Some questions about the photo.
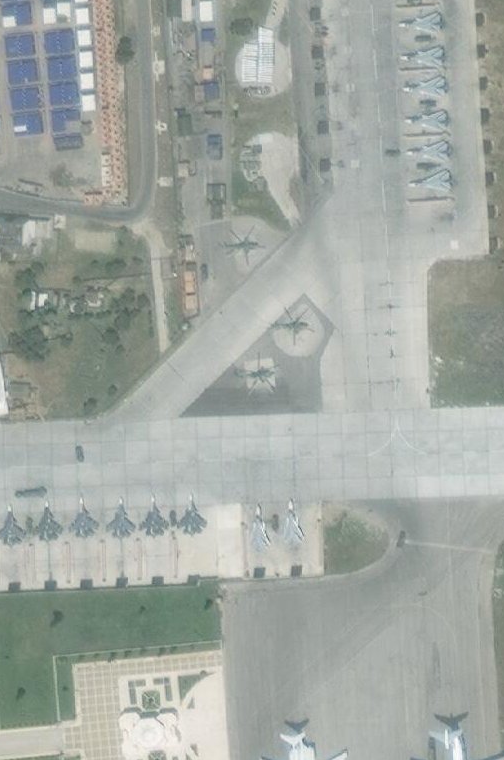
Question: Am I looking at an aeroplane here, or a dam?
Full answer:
There is an aeroplane in the scene.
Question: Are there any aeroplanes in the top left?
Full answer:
No, the scene shows no aeroplane in the top left.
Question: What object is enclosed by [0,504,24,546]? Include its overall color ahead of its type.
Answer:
gray airplane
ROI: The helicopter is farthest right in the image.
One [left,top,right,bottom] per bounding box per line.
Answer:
[267,307,313,344]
